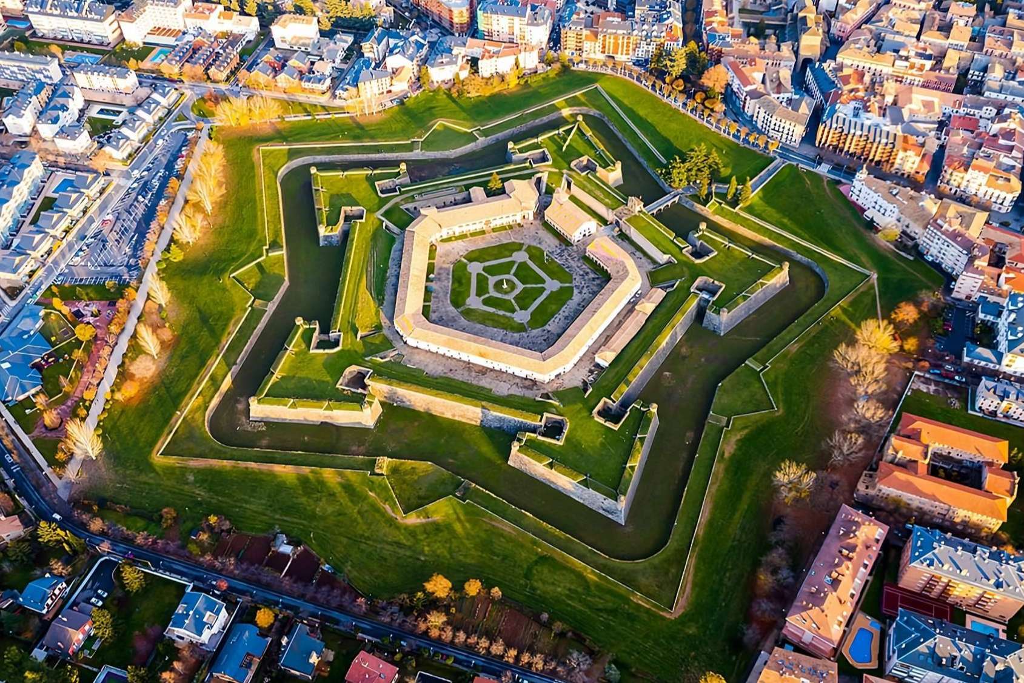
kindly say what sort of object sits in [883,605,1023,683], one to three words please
building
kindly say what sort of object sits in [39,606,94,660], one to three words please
house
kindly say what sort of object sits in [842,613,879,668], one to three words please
swimming pool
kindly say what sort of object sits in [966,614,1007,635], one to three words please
swimming pool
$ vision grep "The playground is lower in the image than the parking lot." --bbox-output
[31,298,117,439]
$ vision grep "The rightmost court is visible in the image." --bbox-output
[879,581,953,620]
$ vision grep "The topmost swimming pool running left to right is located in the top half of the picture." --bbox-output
[62,52,104,64]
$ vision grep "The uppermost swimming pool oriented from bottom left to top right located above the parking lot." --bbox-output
[142,46,170,68]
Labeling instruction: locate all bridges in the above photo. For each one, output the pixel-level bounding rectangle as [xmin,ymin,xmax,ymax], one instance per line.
[644,191,681,219]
